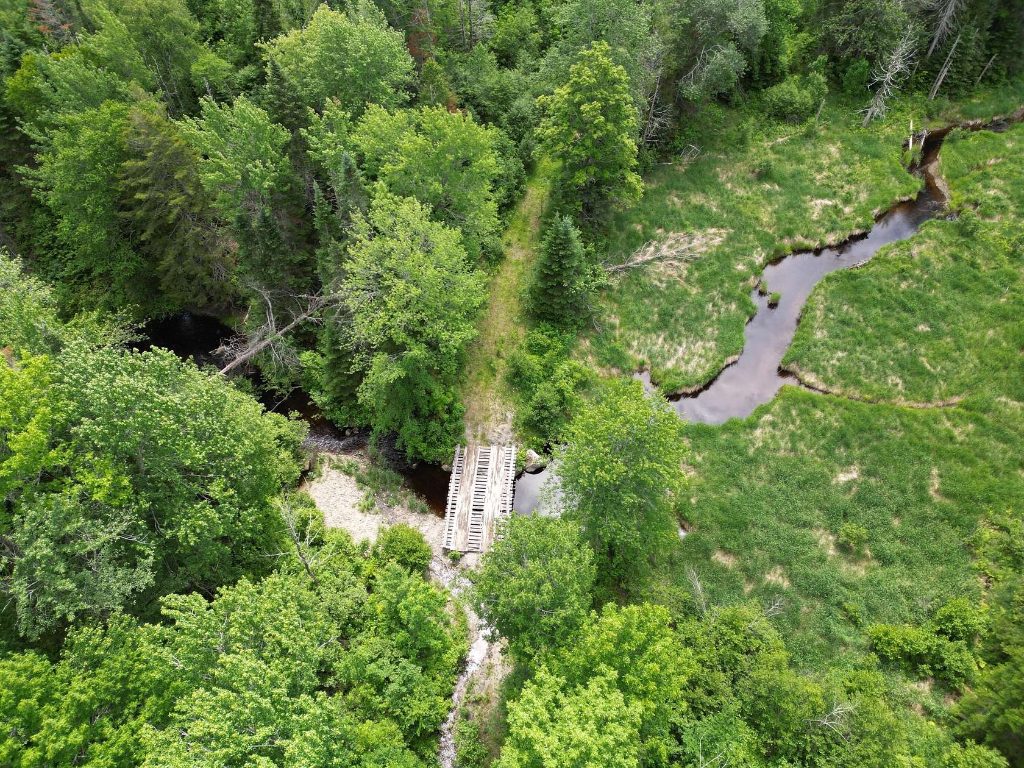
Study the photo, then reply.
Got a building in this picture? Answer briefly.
No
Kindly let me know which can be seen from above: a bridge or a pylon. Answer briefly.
bridge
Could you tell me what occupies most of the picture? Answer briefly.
trees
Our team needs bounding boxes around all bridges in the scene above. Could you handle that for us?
[439,443,518,559]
